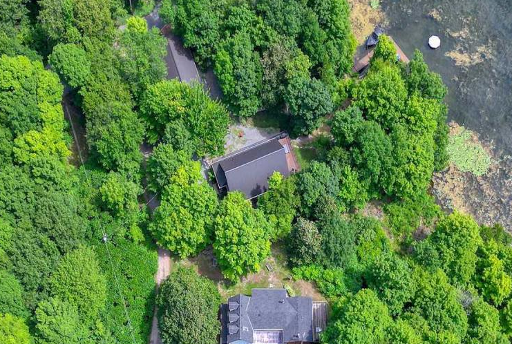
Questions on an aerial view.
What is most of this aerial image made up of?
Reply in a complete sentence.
For the most part, this view shows trees.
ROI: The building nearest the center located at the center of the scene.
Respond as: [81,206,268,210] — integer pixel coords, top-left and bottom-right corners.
[212,132,299,201]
